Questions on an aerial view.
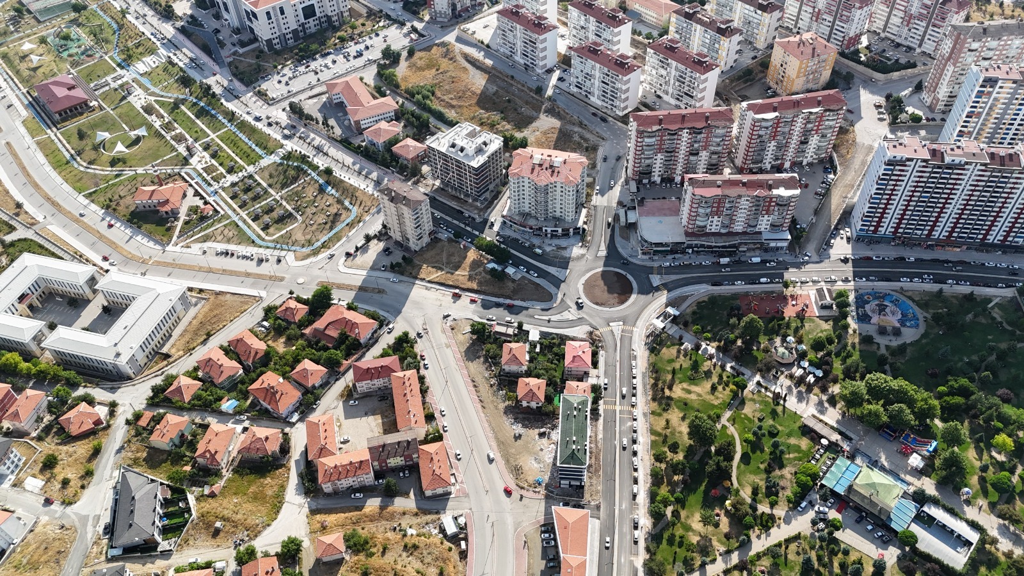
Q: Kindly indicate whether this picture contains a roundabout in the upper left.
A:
No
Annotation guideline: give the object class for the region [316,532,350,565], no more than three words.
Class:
house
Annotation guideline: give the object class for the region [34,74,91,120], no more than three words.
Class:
building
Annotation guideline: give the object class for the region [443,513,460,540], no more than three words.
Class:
shed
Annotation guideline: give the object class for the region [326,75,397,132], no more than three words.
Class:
building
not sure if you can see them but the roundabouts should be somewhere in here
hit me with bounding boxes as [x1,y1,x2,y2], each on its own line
[579,268,637,309]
